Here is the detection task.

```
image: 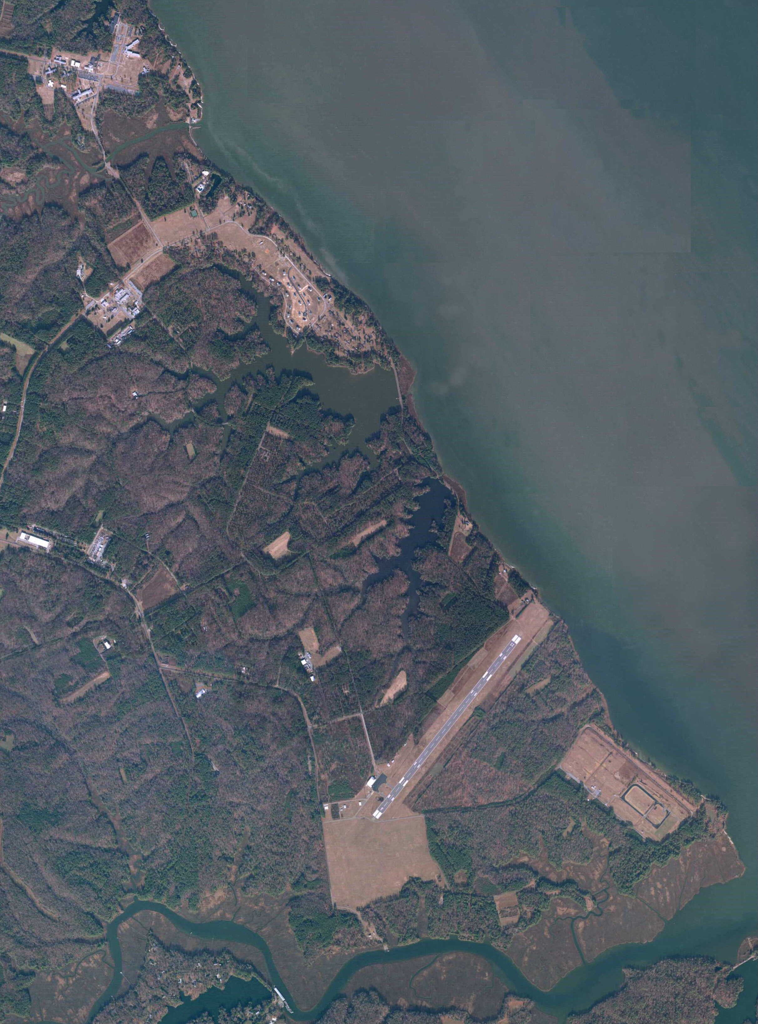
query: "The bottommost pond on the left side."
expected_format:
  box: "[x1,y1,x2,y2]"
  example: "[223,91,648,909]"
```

[158,975,272,1024]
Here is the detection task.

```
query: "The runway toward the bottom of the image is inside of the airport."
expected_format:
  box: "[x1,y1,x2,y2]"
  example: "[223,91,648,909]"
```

[372,633,523,820]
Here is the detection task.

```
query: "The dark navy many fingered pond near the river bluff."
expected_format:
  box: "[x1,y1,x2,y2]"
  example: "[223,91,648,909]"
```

[356,477,457,640]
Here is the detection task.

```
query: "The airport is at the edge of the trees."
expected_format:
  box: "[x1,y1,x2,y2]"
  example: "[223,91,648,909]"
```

[356,602,553,821]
